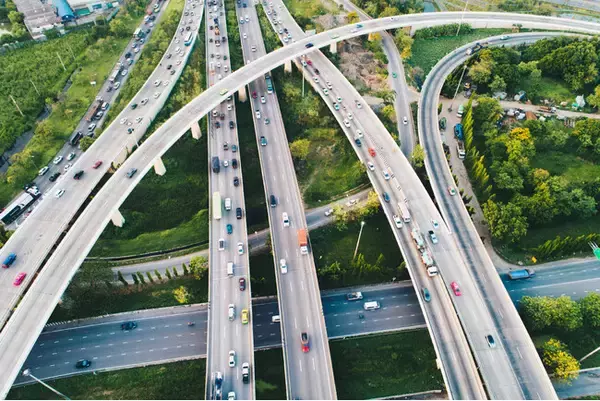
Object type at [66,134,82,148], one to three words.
vehicle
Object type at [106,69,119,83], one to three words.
vehicle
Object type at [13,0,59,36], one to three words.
shed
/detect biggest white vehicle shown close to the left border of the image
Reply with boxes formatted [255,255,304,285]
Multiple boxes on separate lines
[2,193,32,221]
